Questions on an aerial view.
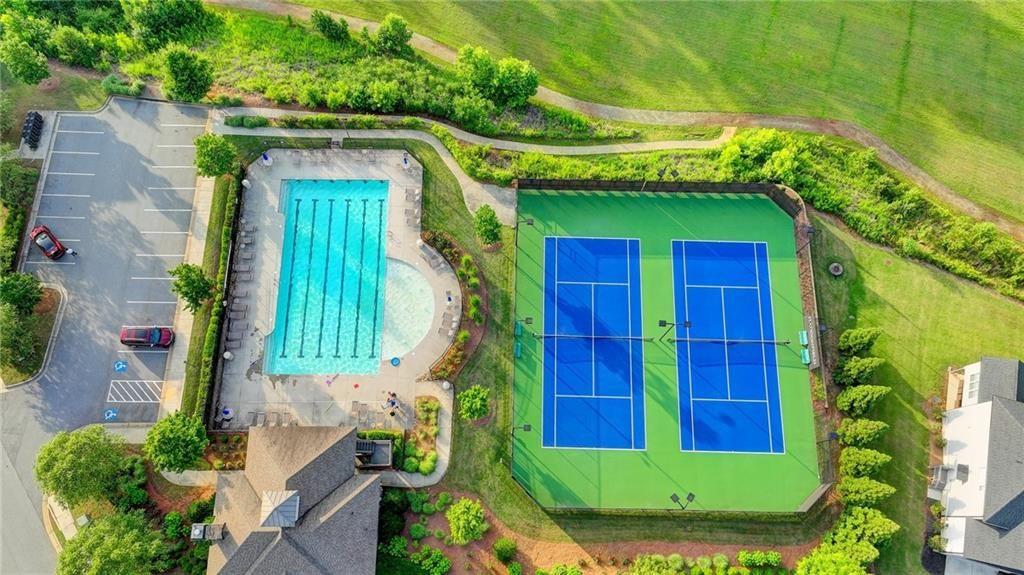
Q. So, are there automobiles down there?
Yes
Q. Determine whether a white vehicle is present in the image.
No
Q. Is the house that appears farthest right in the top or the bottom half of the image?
bottom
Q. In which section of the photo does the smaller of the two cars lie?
left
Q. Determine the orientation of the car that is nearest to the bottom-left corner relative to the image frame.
horizontally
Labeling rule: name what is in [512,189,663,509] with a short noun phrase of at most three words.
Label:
tennis court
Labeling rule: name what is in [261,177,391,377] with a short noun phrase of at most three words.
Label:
swimming pool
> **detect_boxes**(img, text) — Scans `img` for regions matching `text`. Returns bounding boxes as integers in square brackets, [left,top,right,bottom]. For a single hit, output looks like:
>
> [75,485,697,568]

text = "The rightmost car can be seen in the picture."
[122,327,174,349]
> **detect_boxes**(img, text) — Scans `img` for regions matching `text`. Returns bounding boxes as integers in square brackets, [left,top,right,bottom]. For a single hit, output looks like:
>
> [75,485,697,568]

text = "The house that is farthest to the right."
[927,356,1024,573]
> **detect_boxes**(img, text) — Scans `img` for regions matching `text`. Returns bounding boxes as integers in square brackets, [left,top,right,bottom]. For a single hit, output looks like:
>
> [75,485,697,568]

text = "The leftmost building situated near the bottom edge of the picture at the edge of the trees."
[188,426,382,575]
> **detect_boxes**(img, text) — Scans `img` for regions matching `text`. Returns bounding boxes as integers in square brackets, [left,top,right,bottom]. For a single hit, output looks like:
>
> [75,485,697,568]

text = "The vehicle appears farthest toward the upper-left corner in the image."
[33,227,65,261]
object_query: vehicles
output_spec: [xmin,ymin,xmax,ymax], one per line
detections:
[122,327,174,349]
[33,227,65,261]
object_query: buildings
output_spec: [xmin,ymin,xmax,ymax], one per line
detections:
[927,356,1024,573]
[188,426,382,575]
